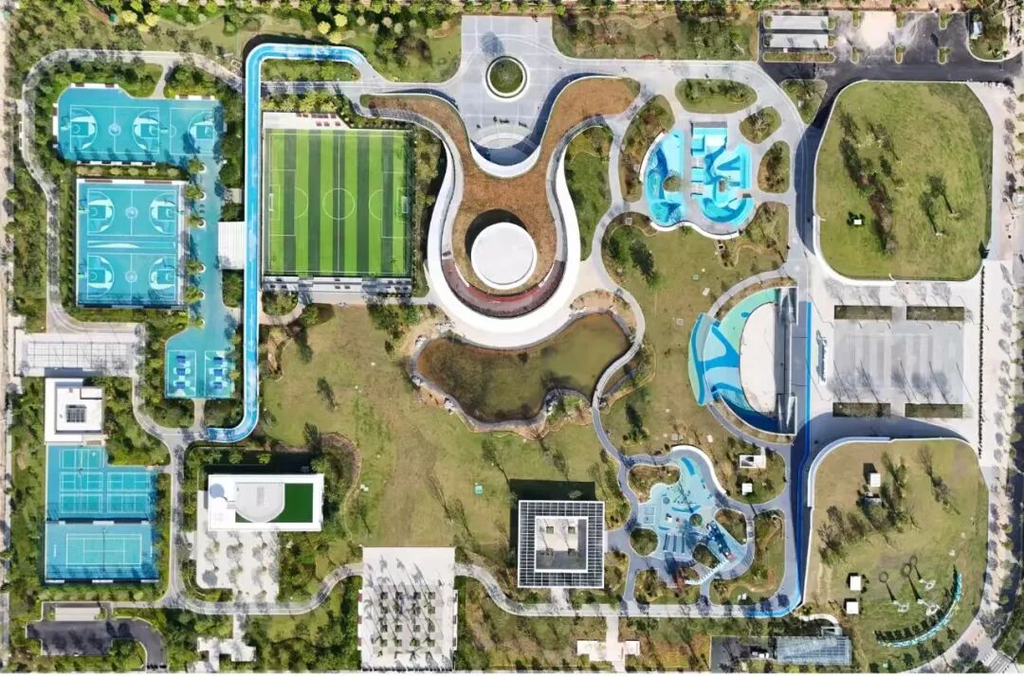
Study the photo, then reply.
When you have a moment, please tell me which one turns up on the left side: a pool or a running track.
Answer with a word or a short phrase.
running track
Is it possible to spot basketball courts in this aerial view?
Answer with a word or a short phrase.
Yes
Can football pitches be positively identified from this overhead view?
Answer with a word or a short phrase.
Yes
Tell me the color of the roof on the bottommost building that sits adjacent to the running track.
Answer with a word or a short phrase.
white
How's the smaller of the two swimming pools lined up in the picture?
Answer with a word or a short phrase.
up and down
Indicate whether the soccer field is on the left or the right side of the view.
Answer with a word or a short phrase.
left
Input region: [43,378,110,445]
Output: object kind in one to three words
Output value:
building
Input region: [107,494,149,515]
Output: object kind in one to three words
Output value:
sports court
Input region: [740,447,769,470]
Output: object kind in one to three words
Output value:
shed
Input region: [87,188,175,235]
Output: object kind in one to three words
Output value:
basketball court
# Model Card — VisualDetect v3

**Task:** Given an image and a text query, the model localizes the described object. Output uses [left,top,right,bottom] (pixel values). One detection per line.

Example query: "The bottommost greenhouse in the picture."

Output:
[771,622,852,666]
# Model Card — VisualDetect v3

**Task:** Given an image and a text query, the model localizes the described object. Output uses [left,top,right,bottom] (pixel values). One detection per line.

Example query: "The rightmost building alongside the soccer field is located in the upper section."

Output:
[362,74,642,336]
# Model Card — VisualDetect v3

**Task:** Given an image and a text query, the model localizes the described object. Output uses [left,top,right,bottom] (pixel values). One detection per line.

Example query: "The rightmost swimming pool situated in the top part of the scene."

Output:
[690,119,756,226]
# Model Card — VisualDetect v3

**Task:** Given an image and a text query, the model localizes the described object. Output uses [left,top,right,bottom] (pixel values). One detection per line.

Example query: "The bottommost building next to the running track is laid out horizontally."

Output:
[208,472,328,531]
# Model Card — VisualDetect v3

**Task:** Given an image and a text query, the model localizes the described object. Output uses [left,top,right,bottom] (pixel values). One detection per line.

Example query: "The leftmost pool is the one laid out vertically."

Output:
[646,128,685,225]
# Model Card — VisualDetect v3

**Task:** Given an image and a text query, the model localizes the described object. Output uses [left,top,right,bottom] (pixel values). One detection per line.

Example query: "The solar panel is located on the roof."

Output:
[520,503,603,587]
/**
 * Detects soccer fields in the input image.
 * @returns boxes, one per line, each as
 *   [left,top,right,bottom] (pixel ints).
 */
[264,129,409,275]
